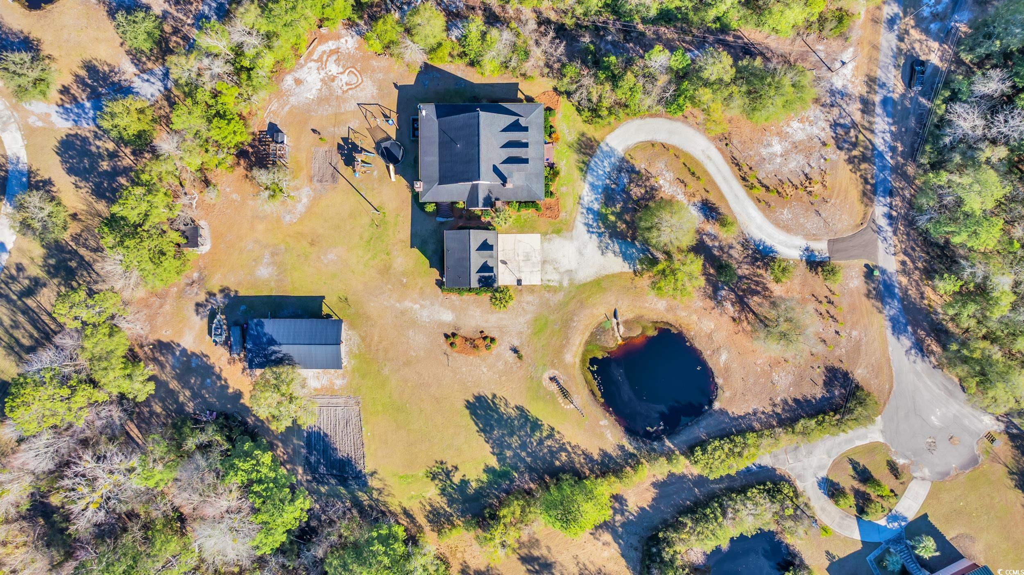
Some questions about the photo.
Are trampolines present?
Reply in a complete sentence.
Yes, there is a trampoline in the image.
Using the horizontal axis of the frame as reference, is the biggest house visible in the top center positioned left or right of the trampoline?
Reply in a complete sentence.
The biggest house visible in the top center can be seen on the right of the trampoline.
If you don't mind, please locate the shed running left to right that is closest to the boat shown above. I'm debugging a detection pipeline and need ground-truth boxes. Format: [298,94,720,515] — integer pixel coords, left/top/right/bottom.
[242,319,346,369]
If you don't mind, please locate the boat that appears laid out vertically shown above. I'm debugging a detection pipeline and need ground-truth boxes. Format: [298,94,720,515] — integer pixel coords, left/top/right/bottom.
[206,315,222,348]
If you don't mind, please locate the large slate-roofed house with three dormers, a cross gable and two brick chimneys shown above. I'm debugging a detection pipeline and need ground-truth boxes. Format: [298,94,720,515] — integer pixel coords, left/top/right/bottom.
[409,102,545,210]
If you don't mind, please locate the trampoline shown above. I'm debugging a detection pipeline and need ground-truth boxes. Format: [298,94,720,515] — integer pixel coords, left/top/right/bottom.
[374,134,402,164]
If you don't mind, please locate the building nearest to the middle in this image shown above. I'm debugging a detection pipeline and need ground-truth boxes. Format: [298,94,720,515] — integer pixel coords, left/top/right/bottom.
[444,228,498,288]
